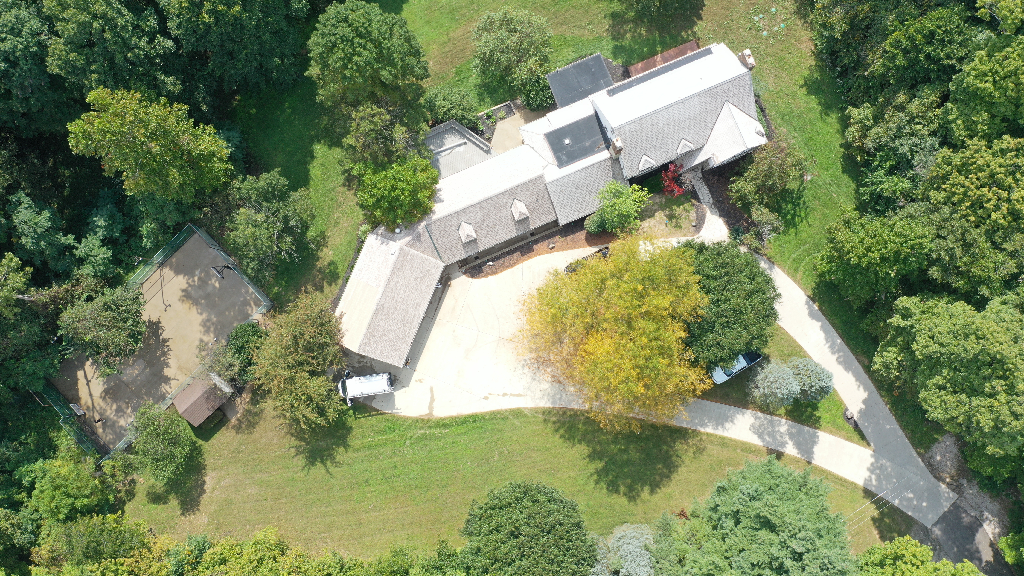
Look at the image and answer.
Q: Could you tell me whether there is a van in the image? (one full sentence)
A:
Yes, the image includes a van.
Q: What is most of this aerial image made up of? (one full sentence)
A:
What you mostly see from above here is trees.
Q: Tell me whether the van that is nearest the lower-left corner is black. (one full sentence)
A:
No, the van that is nearest the lower-left corner is white.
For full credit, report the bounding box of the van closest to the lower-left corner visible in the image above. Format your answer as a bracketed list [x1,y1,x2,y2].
[339,366,398,407]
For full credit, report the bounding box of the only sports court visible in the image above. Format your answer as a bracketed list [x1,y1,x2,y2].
[52,232,271,454]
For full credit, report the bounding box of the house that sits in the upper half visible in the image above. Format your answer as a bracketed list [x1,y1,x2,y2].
[327,40,766,368]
